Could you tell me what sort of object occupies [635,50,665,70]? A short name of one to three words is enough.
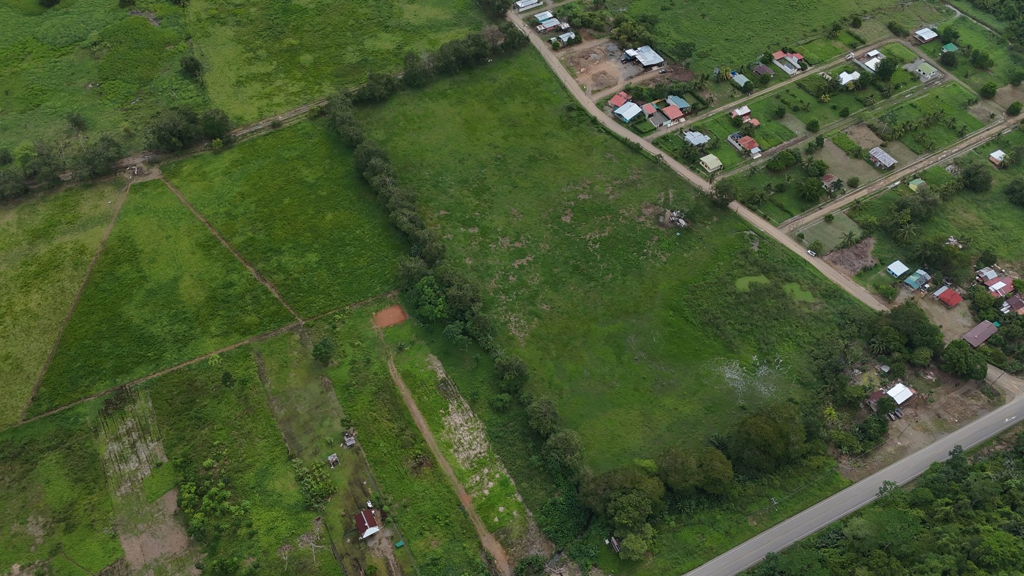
building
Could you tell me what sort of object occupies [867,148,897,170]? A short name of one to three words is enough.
barn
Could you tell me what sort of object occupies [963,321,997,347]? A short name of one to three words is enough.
house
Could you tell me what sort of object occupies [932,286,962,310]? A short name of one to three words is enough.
house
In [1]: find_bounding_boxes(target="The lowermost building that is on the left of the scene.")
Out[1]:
[355,510,379,538]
